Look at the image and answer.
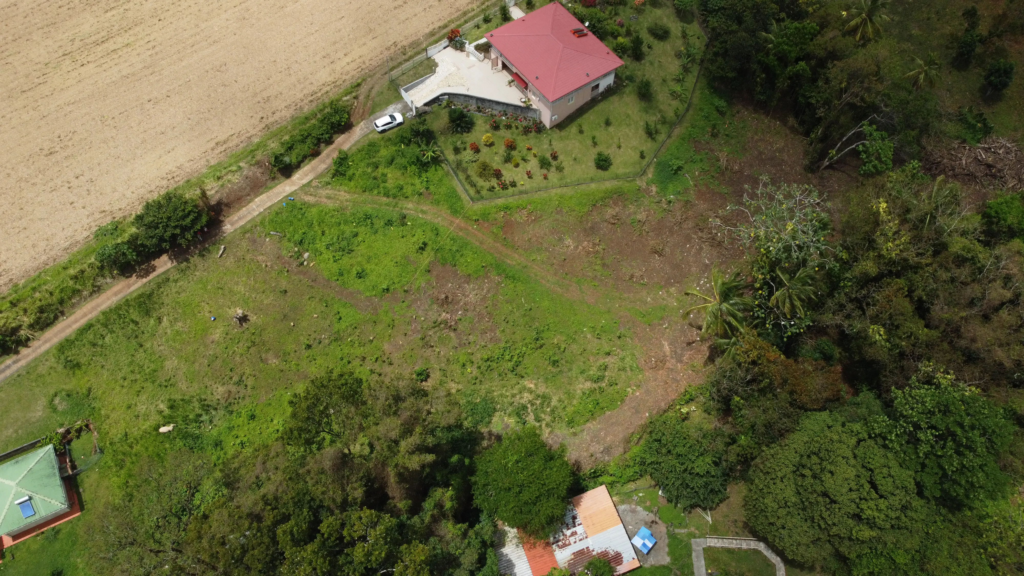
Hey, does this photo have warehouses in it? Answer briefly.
No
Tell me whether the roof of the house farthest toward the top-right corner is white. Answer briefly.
No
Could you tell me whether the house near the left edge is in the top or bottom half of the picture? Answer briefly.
bottom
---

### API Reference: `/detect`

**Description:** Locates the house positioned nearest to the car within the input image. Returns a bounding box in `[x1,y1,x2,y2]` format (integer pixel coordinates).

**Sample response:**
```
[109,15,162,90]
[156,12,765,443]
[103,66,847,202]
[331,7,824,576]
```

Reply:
[483,2,627,129]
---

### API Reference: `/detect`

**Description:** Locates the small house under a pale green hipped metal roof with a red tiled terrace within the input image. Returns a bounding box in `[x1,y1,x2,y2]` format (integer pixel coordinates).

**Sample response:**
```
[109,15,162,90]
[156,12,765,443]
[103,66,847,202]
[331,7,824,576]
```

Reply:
[0,444,71,539]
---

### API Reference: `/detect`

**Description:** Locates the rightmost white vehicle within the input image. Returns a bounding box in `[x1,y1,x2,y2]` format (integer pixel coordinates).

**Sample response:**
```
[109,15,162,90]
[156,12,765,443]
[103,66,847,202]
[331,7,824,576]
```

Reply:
[372,113,403,131]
